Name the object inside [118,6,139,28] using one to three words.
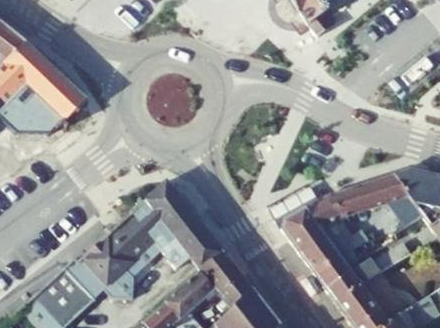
vehicle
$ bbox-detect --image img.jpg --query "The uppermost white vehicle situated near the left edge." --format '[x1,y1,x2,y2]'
[4,184,22,202]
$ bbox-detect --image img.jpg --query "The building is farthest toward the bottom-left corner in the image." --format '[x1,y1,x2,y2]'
[30,271,96,328]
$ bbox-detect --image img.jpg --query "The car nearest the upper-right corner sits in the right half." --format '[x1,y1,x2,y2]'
[398,0,417,18]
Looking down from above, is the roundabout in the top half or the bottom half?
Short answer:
top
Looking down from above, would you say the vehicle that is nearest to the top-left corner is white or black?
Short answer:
white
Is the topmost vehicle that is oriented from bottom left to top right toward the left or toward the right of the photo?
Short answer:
right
